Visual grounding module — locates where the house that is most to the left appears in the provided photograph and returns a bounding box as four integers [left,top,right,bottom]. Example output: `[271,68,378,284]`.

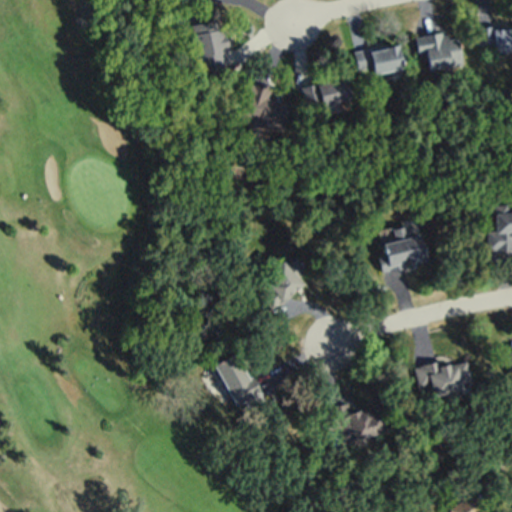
[192,20,232,64]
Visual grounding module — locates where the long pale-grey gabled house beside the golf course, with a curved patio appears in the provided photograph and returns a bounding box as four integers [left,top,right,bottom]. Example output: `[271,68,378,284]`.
[214,361,266,411]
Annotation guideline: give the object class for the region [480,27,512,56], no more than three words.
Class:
house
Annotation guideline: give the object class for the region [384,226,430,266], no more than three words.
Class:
house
